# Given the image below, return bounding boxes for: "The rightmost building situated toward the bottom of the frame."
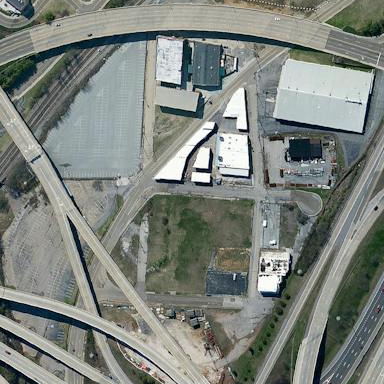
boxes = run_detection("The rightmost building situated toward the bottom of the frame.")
[258,250,290,293]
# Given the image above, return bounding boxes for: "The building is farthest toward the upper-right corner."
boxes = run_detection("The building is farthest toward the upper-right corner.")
[274,56,374,135]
